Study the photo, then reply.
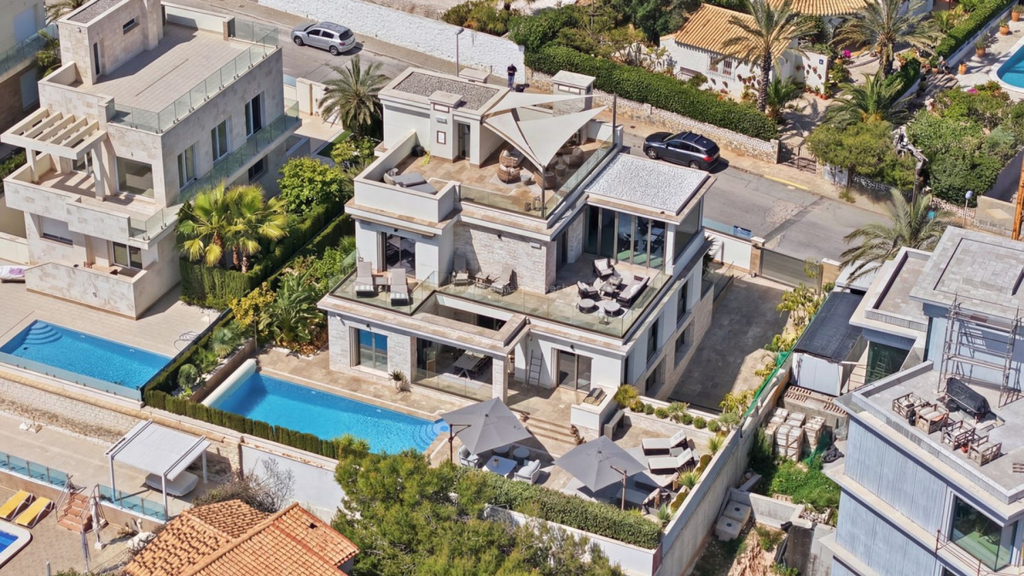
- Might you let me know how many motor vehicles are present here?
2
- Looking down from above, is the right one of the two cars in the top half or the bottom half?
top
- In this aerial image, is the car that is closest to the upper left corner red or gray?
gray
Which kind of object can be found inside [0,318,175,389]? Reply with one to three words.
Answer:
swimming pool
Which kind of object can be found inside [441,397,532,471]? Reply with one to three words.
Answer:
umbrella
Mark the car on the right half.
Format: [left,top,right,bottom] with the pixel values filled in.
[639,124,722,171]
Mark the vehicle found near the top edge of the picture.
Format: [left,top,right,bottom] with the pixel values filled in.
[288,16,360,55]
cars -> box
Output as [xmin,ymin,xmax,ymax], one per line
[288,16,360,55]
[639,124,722,171]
